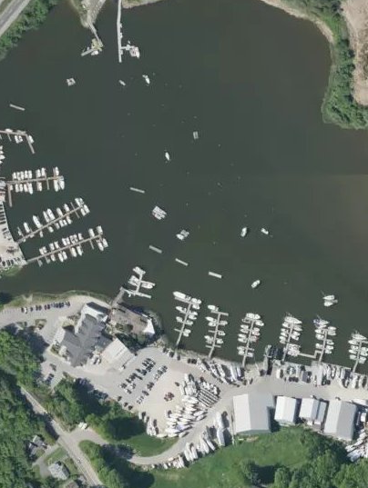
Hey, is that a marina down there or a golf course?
marina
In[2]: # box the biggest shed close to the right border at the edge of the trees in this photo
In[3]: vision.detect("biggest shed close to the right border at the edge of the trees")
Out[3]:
[323,402,356,441]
